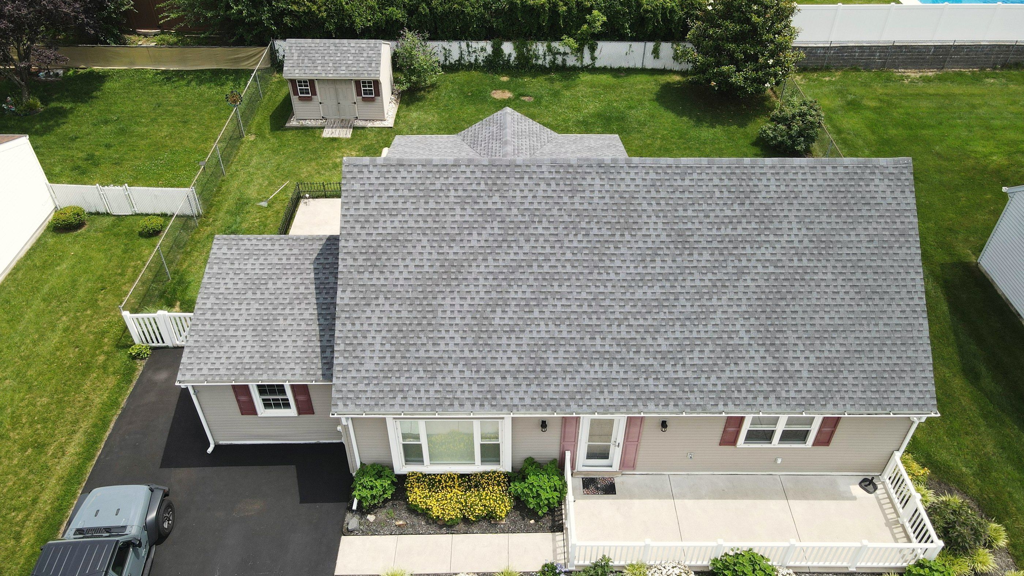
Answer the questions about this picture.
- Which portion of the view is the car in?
bottom left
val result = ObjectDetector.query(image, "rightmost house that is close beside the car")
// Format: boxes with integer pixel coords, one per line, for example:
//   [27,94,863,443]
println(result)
[173,105,941,481]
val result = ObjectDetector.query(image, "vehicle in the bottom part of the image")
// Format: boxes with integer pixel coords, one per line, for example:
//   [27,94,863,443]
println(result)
[25,487,178,576]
